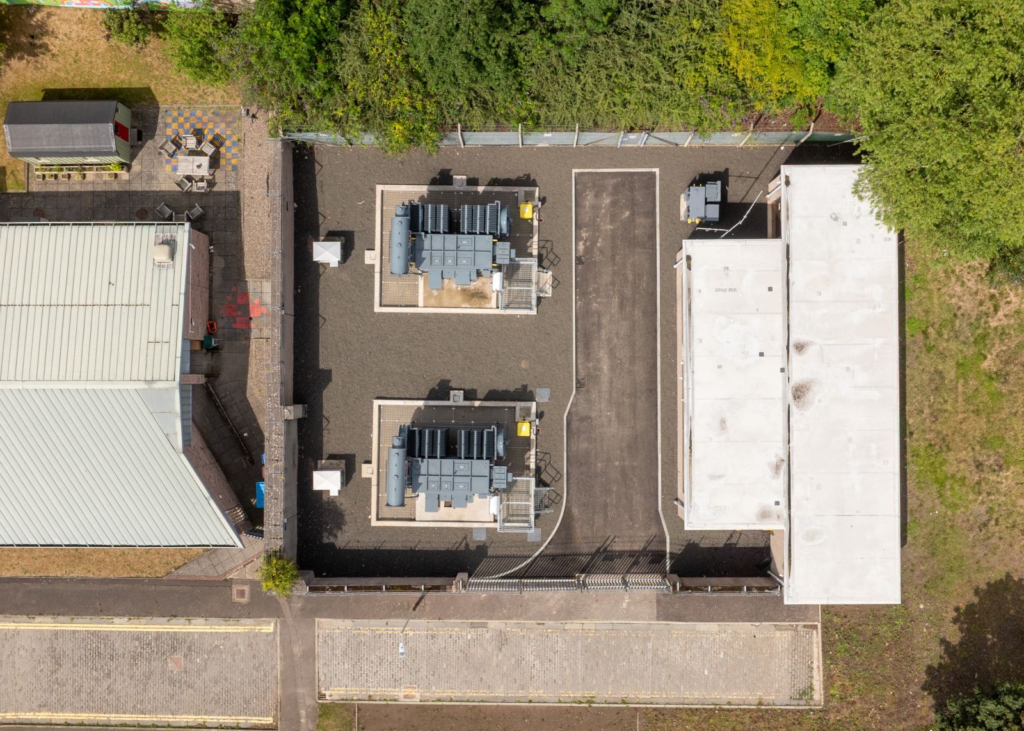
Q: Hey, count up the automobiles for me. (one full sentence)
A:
There are no automobiles in this view.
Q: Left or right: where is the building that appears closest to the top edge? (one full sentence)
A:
You can find the building that appears closest to the top edge on the left side of the picture.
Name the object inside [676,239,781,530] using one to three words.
building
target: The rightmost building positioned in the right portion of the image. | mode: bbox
[769,165,901,604]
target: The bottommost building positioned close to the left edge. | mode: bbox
[0,220,255,552]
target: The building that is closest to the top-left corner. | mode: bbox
[2,101,130,164]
